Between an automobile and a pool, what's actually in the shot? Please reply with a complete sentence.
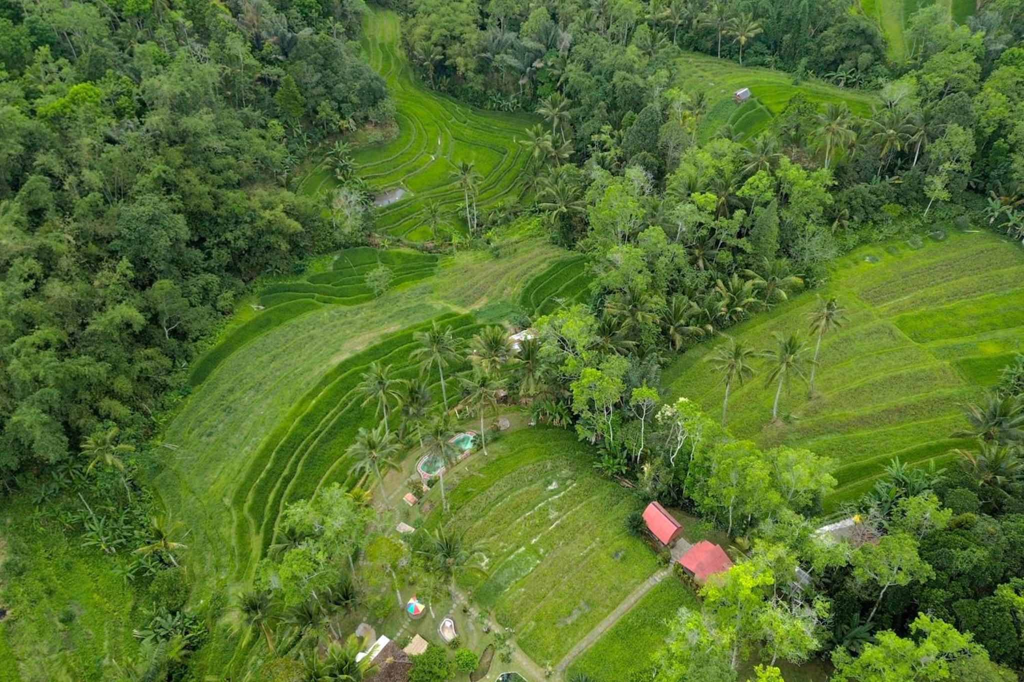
It is a pool that can be seen here.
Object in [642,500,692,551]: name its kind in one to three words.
shed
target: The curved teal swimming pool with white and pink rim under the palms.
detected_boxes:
[418,432,475,476]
